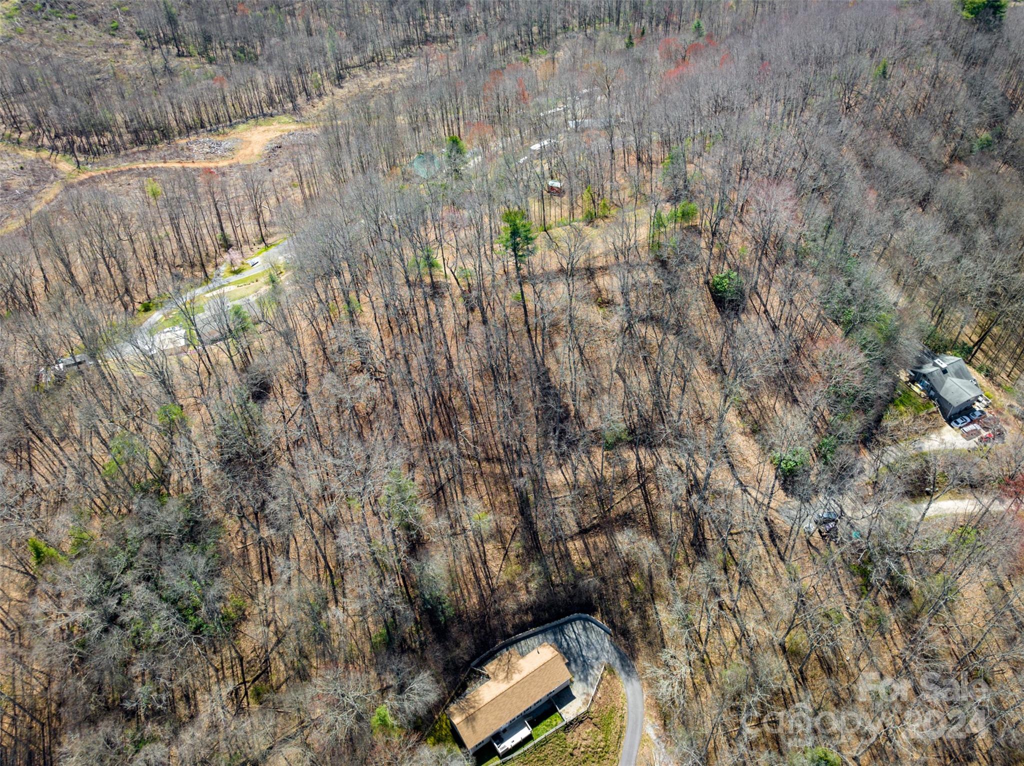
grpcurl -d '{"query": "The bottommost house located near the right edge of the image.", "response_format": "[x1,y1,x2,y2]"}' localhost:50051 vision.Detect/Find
[891,352,984,421]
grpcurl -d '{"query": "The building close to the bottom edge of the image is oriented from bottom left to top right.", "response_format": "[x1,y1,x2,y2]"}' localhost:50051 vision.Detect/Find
[446,643,572,753]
